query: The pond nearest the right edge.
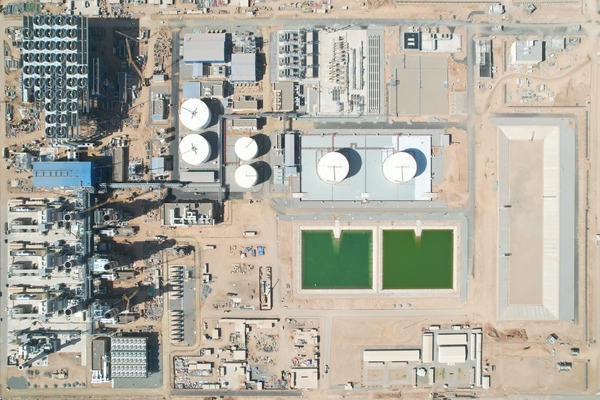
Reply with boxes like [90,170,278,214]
[487,108,578,324]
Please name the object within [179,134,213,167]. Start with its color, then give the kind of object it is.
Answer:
white storage tank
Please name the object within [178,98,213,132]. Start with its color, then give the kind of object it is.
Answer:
white storage tank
